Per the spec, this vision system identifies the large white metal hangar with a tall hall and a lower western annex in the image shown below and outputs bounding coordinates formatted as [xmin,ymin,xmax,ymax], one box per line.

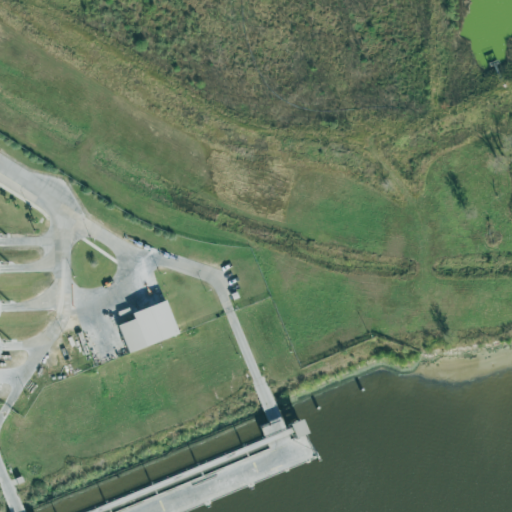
[119,300,180,353]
